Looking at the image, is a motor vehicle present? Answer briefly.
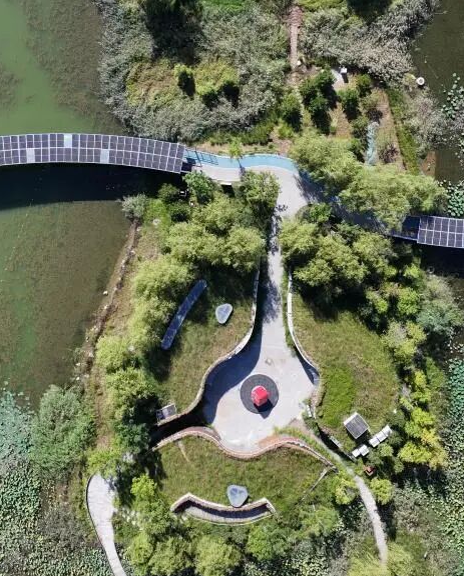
No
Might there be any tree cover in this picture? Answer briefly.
Yes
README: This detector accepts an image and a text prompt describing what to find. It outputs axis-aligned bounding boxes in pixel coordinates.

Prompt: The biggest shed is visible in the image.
[339,409,367,436]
